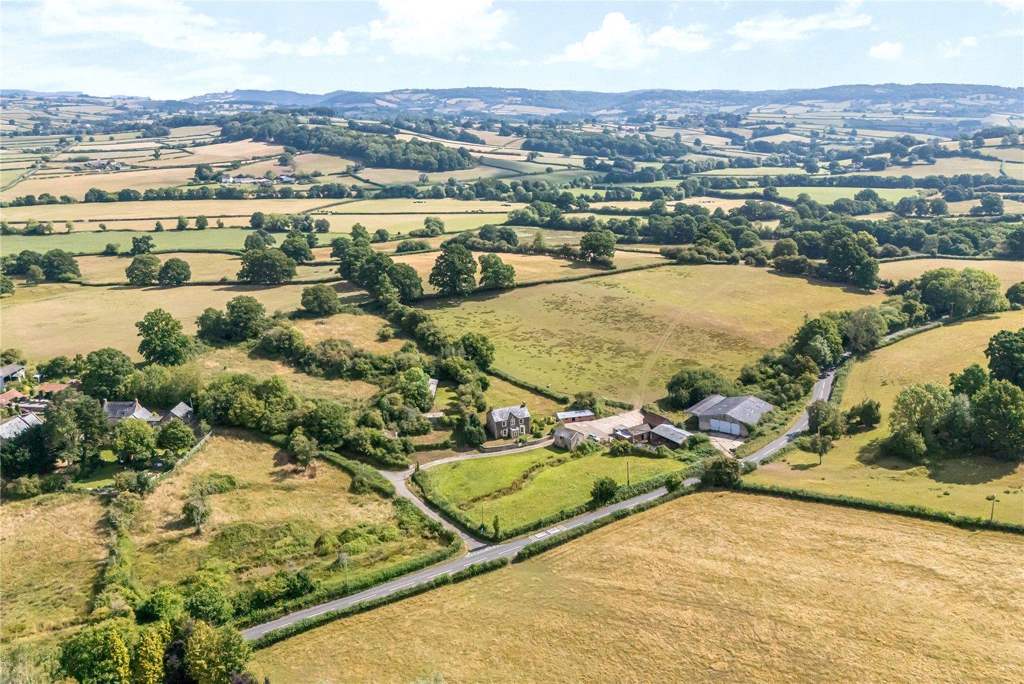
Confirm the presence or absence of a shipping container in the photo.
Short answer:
No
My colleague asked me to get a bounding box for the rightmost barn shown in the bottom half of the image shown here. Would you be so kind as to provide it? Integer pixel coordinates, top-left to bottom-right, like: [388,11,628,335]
[681,393,765,439]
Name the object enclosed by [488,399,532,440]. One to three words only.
house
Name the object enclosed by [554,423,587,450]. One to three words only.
barn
